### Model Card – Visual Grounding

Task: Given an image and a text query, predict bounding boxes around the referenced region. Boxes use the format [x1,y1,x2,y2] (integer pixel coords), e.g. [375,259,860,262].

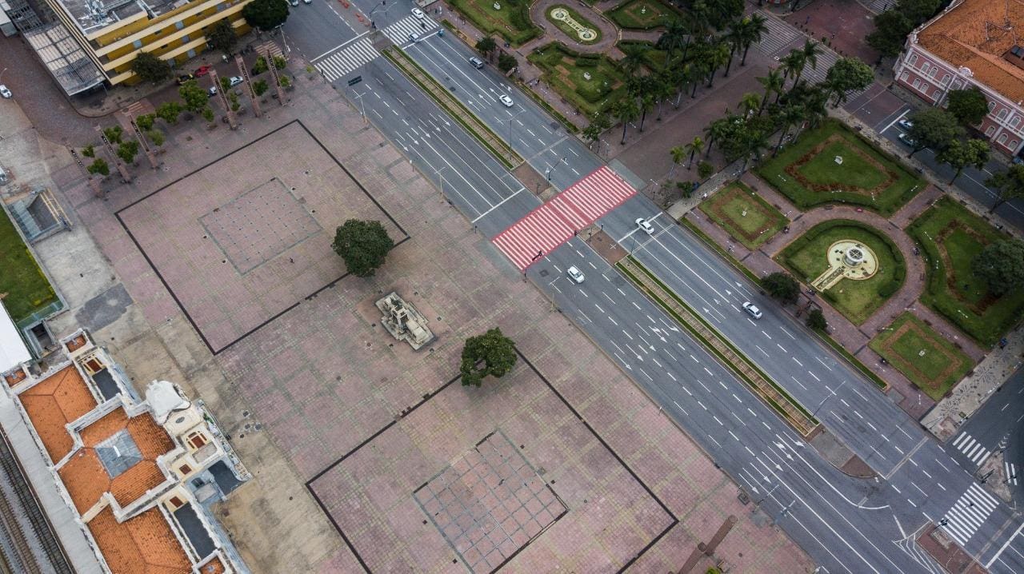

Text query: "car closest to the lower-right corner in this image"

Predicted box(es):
[739,298,765,321]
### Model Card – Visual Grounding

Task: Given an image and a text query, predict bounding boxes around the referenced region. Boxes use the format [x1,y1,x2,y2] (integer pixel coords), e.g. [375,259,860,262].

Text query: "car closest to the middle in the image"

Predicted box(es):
[565,264,586,284]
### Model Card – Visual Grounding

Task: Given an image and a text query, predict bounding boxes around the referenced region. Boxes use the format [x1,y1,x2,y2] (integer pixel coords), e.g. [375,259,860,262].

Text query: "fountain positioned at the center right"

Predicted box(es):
[811,238,881,296]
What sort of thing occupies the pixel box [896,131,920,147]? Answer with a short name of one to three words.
car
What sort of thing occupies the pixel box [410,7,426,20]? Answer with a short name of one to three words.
vehicle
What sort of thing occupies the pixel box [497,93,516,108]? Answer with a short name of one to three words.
car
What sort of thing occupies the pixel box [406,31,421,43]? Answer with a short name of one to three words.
vehicle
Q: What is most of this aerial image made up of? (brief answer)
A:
paved ground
